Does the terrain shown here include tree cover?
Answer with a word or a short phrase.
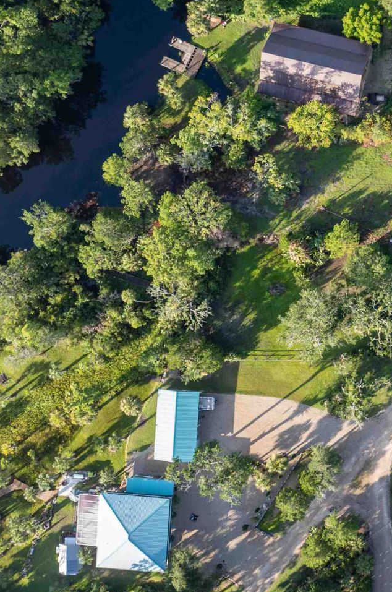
Yes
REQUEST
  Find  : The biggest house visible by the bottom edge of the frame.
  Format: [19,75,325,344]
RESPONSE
[77,472,174,572]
